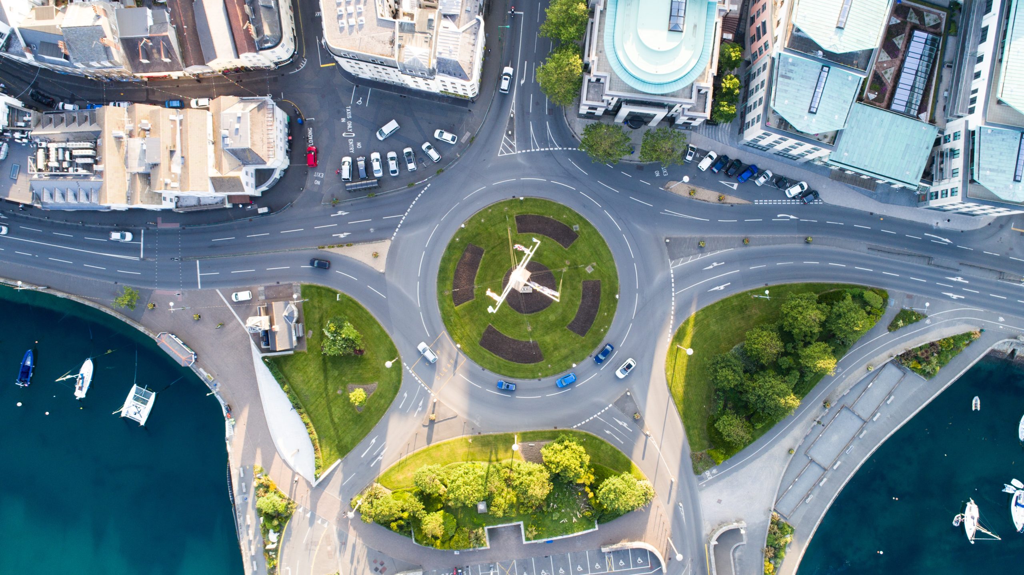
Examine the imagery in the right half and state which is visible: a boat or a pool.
boat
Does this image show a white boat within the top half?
No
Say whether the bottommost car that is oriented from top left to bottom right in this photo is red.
No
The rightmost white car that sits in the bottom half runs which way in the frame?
diagonally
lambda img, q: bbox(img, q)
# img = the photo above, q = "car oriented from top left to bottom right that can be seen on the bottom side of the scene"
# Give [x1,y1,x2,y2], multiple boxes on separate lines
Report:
[418,340,439,364]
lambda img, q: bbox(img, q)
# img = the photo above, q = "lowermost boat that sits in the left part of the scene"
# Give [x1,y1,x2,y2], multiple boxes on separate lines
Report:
[114,384,156,426]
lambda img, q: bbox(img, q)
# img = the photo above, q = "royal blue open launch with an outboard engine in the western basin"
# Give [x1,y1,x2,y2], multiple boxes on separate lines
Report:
[15,350,32,387]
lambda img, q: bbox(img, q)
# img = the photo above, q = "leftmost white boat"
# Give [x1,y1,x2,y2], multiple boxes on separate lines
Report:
[58,359,92,399]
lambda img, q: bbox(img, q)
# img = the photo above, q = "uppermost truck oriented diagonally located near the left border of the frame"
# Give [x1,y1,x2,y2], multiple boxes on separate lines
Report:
[29,88,57,109]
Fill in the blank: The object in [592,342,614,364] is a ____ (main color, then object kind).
blue car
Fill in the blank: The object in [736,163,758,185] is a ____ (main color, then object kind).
blue car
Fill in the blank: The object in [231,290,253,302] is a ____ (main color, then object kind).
white vehicle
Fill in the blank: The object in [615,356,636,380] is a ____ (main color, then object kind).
white car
